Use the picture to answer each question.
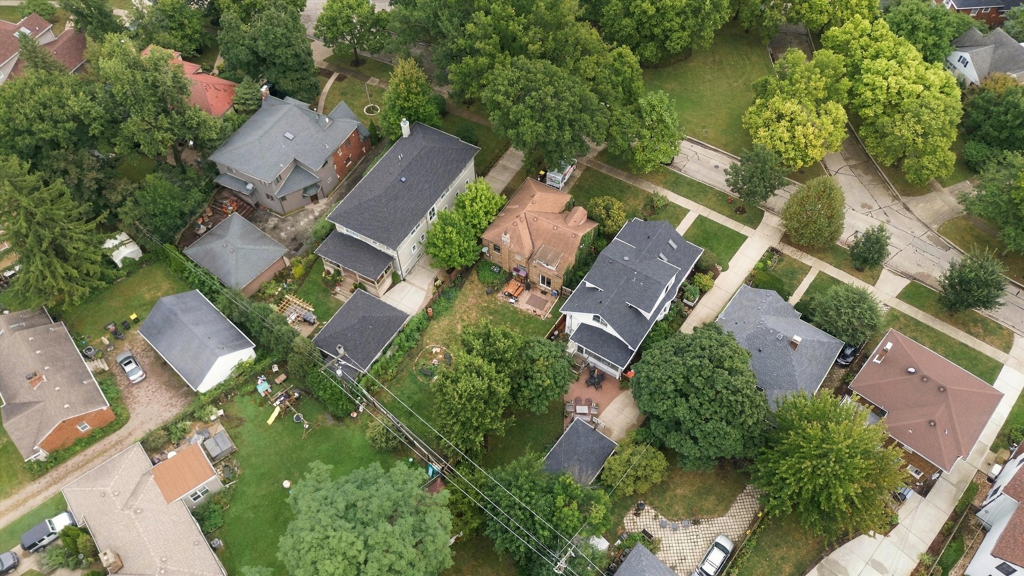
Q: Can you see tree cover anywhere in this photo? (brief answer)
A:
Yes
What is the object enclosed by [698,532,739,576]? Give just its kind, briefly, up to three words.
car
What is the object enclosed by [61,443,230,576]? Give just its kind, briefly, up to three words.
house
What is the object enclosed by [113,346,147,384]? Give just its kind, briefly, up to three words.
car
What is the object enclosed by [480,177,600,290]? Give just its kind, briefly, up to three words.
house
